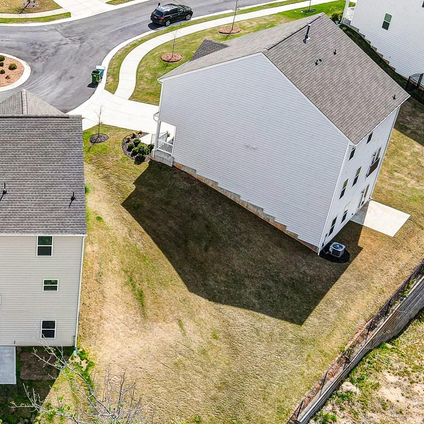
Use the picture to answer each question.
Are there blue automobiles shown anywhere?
No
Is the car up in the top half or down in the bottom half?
top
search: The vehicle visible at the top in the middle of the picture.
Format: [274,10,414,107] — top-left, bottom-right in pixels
[149,2,195,26]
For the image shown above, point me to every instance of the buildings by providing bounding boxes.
[0,87,88,349]
[147,10,411,254]
[341,0,424,87]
